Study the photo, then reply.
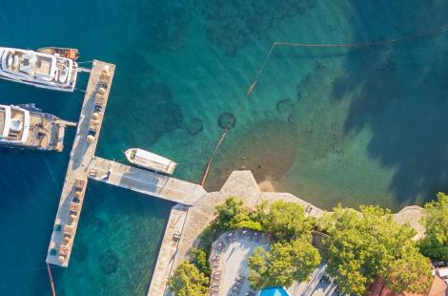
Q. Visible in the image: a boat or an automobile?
boat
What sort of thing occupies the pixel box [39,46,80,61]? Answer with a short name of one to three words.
boat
